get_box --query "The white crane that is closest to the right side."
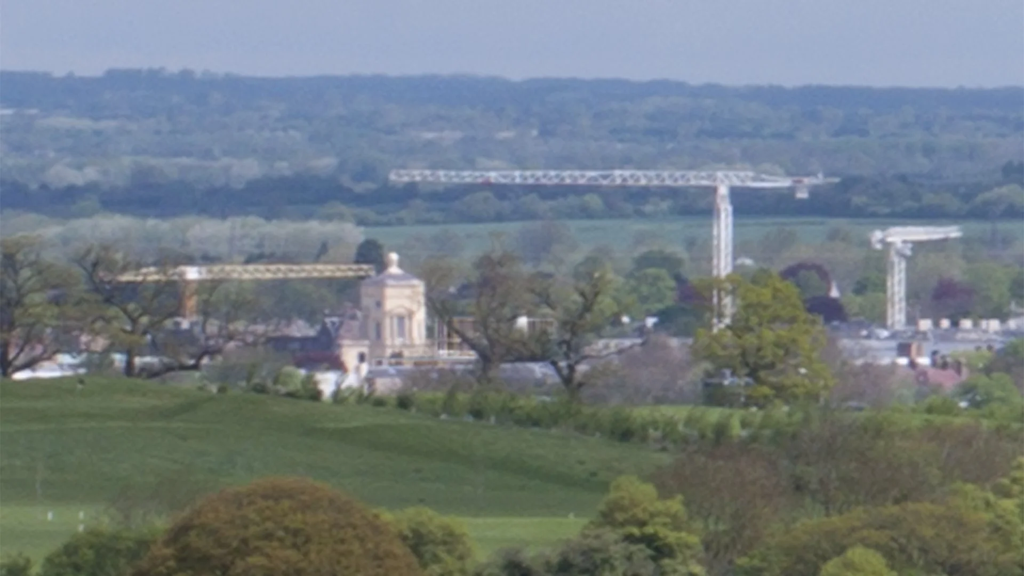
[873,230,959,325]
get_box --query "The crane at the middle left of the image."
[119,263,376,340]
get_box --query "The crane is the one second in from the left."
[397,169,840,373]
